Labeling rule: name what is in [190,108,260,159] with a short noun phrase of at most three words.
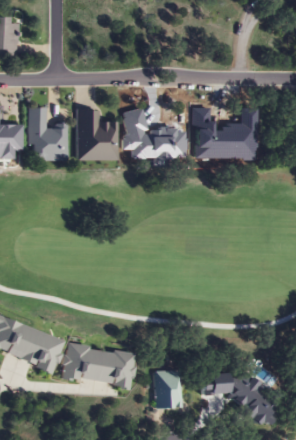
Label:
house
